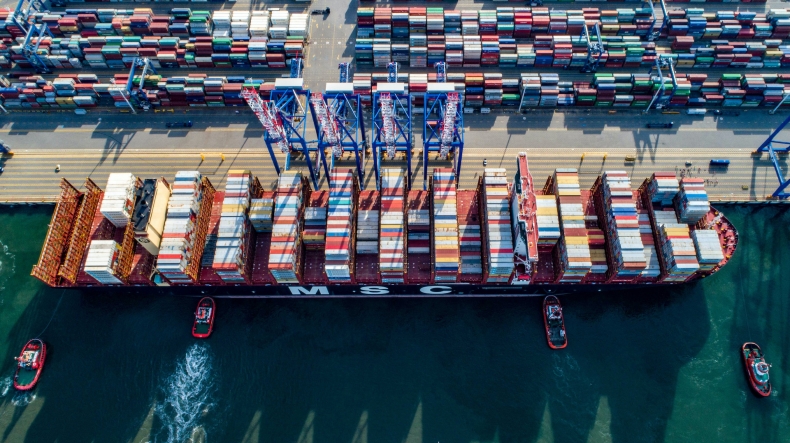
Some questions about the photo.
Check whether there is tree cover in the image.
No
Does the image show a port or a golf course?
port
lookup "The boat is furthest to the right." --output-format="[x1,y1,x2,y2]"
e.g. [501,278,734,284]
[744,341,775,395]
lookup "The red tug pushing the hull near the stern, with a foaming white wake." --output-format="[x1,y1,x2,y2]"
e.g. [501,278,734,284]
[191,297,212,340]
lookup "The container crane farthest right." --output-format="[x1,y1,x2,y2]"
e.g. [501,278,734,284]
[754,124,790,196]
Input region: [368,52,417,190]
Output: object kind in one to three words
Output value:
container crane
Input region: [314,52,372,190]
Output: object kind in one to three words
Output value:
container crane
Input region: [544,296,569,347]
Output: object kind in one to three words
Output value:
boat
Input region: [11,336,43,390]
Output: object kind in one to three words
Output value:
boat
